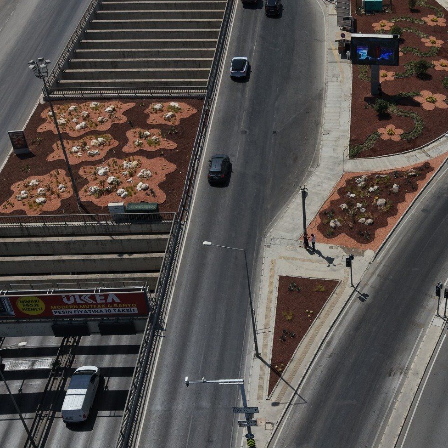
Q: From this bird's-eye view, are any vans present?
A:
Yes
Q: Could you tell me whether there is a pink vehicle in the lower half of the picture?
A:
No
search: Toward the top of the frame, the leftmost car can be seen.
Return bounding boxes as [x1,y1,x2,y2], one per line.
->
[208,155,231,187]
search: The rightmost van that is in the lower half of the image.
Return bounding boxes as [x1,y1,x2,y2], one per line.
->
[59,372,101,424]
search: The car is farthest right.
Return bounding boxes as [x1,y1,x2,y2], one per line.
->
[265,0,281,18]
